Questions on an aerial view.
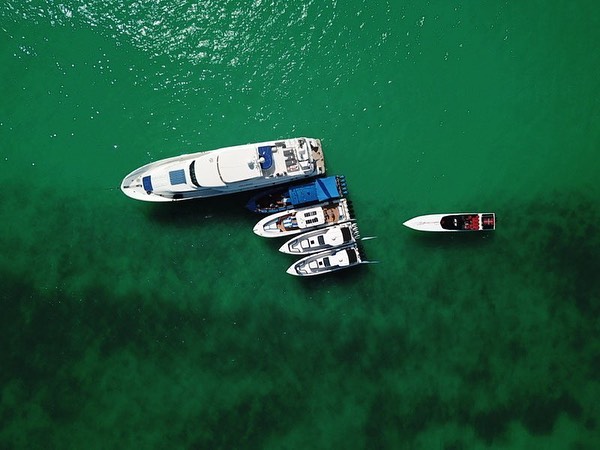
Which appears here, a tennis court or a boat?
boat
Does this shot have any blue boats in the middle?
Yes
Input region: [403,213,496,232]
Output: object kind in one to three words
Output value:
boat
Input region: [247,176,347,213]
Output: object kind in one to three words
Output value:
boat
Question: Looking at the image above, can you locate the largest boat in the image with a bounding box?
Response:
[114,137,327,201]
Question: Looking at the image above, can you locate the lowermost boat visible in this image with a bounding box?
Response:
[287,244,381,275]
